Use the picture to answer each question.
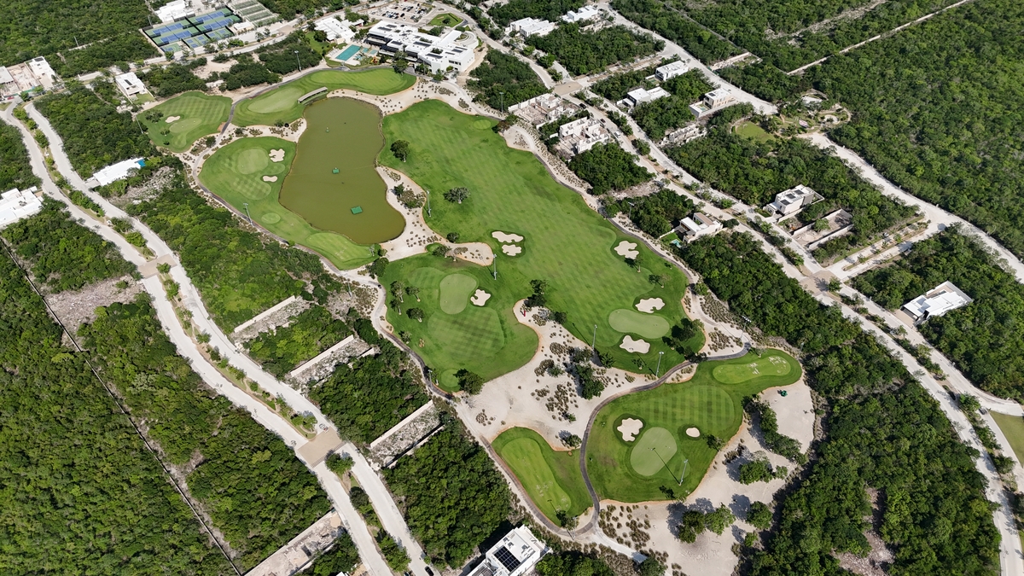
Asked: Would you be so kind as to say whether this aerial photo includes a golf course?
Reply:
Yes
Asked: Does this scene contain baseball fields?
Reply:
No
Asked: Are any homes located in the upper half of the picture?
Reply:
Yes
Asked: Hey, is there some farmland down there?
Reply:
No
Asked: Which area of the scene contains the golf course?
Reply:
center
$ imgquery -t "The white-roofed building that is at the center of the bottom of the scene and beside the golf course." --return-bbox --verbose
[468,524,548,576]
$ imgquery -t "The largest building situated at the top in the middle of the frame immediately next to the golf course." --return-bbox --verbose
[365,20,479,71]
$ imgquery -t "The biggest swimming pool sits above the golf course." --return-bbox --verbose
[335,44,362,60]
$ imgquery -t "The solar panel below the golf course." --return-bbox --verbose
[494,545,519,571]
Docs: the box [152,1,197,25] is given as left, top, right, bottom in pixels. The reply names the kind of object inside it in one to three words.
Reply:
building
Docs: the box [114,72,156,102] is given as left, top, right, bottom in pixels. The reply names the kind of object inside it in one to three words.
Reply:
house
